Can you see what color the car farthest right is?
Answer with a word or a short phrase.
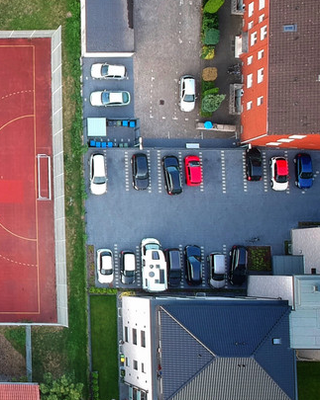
blue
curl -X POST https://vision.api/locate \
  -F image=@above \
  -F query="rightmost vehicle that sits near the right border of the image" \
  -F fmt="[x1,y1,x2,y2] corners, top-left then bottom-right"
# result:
[293,153,315,190]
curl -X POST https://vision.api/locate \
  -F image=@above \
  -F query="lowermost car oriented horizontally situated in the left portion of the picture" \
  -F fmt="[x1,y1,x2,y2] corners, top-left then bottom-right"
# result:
[89,90,130,107]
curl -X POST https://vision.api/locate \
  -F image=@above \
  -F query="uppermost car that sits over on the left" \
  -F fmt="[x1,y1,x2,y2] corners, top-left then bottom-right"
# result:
[90,62,126,80]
